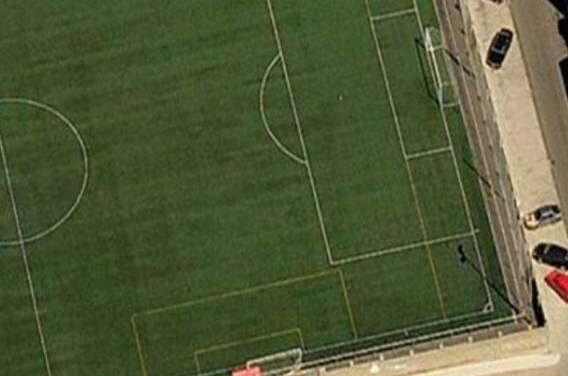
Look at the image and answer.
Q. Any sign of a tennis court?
No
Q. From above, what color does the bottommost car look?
red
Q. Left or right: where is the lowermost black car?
right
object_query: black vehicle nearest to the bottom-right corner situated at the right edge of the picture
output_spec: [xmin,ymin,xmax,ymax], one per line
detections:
[532,243,568,273]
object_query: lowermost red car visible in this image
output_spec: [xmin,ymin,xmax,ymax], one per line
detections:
[548,275,568,301]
